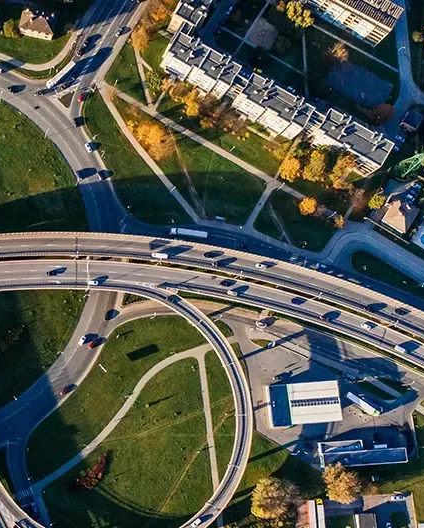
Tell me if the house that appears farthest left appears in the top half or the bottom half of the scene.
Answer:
top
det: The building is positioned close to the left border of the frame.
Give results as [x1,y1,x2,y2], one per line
[19,4,61,38]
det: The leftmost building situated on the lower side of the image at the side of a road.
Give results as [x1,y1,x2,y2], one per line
[264,379,343,429]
